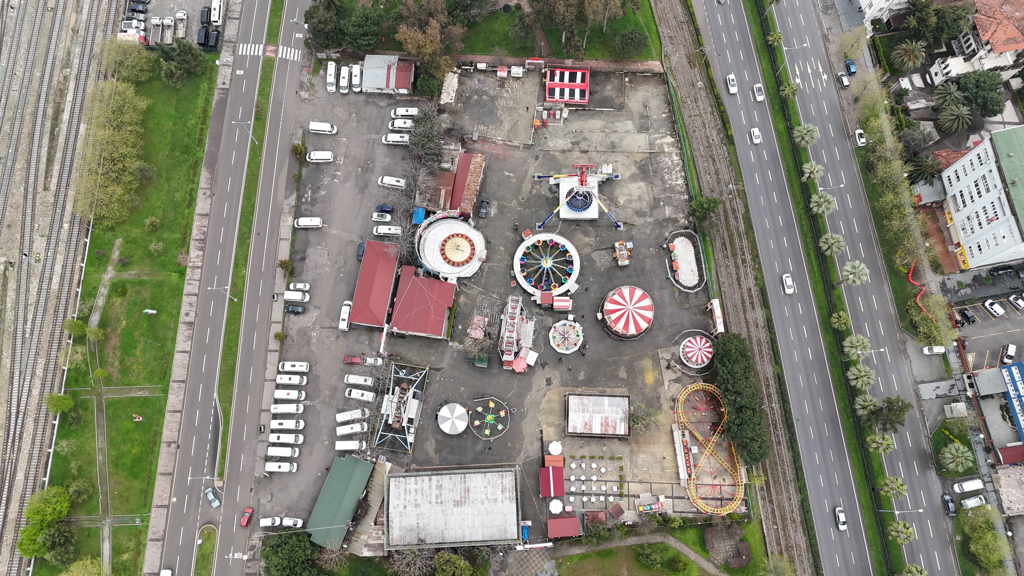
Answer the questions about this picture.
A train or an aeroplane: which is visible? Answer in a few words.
train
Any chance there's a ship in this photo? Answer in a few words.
Yes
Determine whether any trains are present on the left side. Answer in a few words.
No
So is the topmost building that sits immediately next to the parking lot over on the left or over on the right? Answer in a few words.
right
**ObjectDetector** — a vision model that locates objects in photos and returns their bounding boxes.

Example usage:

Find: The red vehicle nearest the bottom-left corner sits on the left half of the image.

[239,506,255,529]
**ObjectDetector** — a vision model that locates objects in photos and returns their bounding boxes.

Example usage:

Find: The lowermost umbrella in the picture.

[549,499,563,514]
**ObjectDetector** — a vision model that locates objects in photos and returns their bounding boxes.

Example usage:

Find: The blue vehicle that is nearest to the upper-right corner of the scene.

[845,60,857,77]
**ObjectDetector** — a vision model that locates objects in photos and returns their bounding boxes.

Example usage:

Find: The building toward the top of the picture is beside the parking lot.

[943,134,1024,269]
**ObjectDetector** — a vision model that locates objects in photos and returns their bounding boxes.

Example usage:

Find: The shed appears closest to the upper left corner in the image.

[362,55,415,97]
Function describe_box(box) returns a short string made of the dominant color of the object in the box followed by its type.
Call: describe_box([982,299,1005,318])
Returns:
white car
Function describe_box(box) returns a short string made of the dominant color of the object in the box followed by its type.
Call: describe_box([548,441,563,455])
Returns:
white umbrella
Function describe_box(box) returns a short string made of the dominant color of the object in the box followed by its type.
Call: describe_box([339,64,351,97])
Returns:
white vehicle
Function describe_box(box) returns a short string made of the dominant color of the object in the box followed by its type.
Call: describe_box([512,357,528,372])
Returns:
pink umbrella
